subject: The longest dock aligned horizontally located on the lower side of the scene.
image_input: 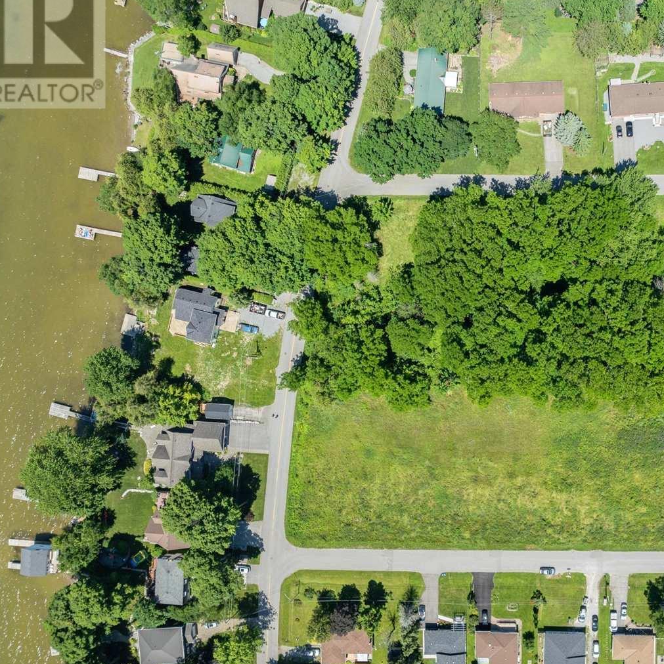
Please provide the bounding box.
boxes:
[48,402,107,423]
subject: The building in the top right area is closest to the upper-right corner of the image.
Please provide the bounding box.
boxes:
[603,78,664,127]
